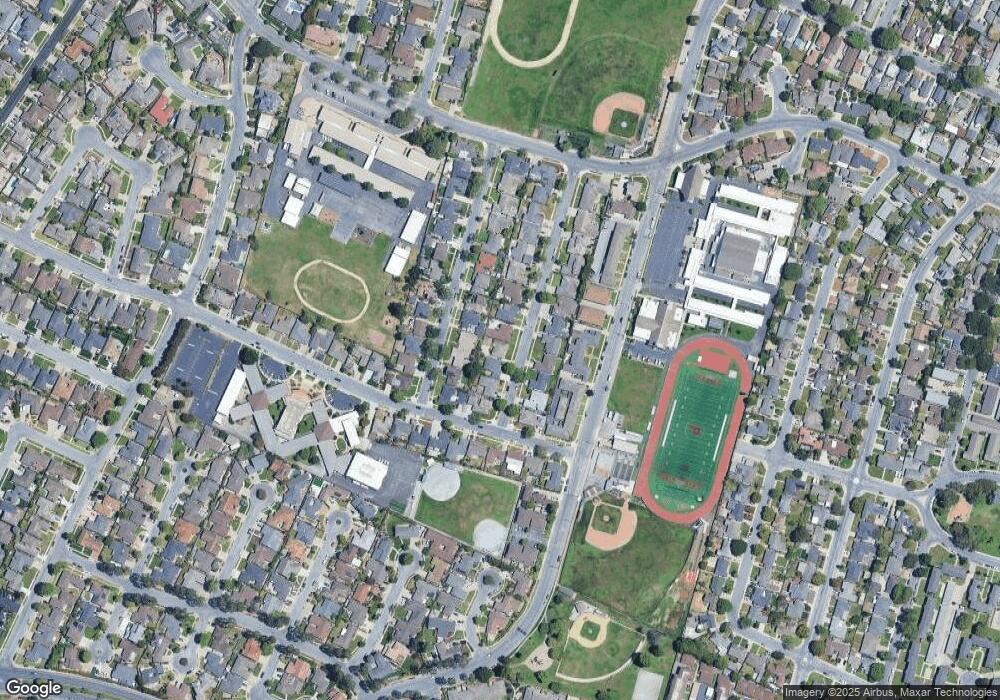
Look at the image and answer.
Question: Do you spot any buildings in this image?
Yes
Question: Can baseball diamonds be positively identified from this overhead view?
Yes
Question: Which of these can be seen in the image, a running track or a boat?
running track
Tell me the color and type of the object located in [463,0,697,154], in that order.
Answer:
green sports field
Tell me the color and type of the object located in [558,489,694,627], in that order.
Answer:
green sports field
